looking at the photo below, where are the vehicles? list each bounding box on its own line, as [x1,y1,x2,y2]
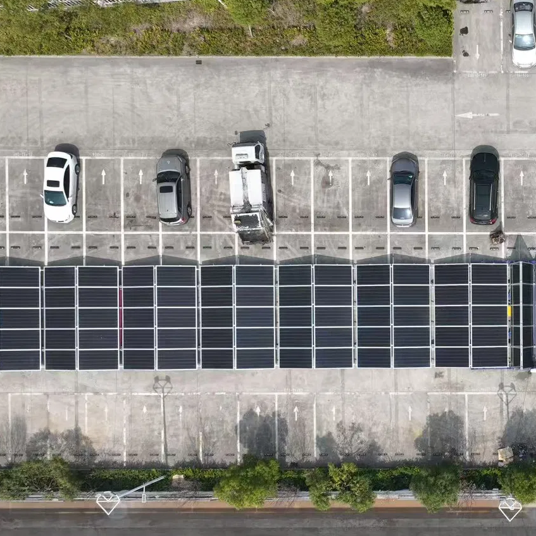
[153,153,193,225]
[40,149,81,223]
[506,0,536,69]
[385,157,420,229]
[465,152,502,225]
[228,135,273,243]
